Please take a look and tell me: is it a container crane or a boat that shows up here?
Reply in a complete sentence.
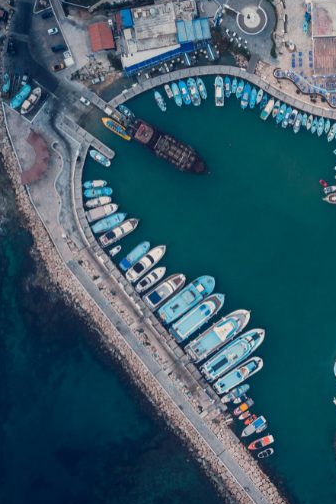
Visible in the photo is a boat.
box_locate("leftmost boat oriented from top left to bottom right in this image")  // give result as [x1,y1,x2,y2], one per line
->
[86,151,111,167]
